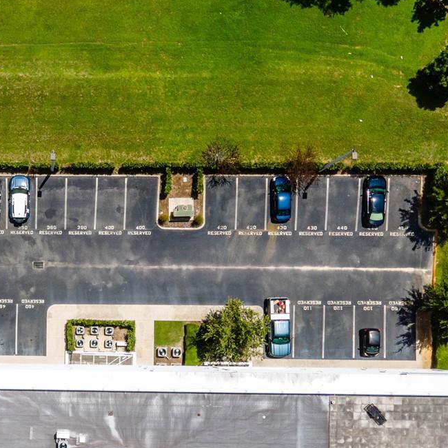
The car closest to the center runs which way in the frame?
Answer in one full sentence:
What the image shows is the car closest to the center lying from top to bottom.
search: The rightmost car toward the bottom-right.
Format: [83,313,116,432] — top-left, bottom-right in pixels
[356,326,382,358]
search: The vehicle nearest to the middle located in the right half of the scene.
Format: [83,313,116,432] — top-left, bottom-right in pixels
[267,172,295,227]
